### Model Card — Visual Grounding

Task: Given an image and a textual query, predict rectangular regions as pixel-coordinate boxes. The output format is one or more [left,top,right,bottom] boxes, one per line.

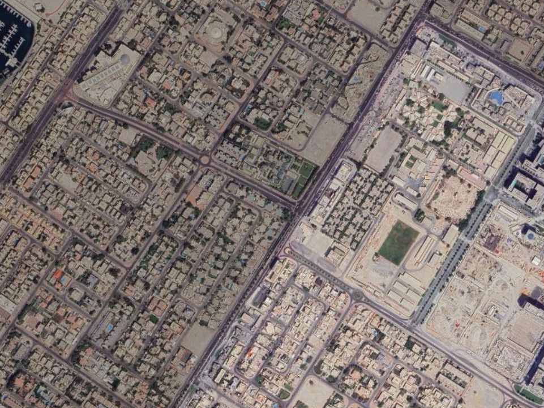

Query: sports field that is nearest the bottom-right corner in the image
[378,220,420,266]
